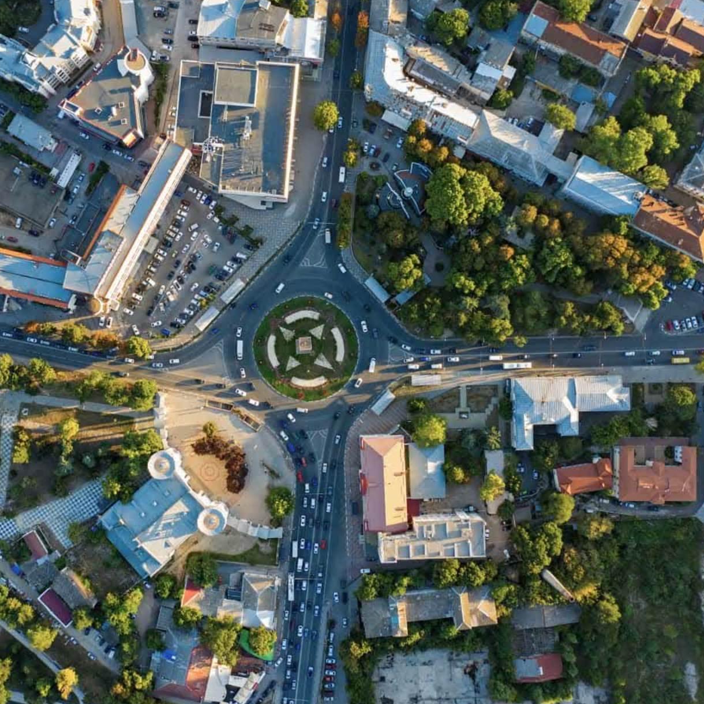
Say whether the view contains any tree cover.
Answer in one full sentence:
Yes, there is tree cover in the image.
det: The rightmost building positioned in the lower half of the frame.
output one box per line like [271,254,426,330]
[606,436,696,506]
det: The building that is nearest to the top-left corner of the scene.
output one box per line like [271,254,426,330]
[0,0,107,103]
